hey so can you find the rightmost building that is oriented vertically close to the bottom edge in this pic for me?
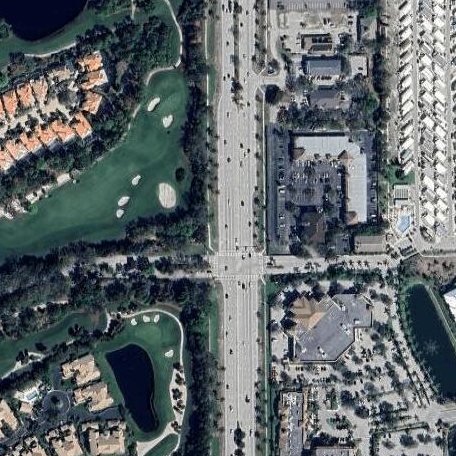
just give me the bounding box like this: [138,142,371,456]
[279,392,308,456]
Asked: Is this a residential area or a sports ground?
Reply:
residential area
